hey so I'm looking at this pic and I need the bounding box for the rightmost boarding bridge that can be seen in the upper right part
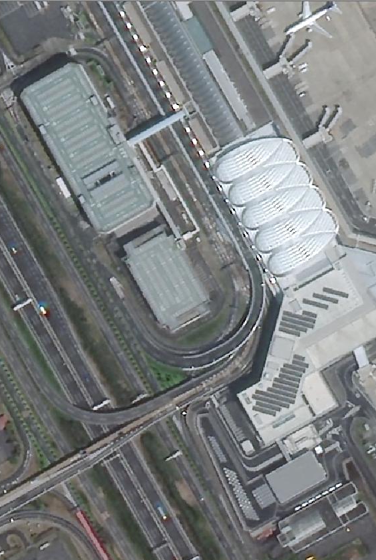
[303,107,343,148]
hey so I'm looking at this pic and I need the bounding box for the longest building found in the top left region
[22,63,159,236]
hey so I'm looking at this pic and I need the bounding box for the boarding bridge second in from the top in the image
[264,34,312,79]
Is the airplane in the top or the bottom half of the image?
top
